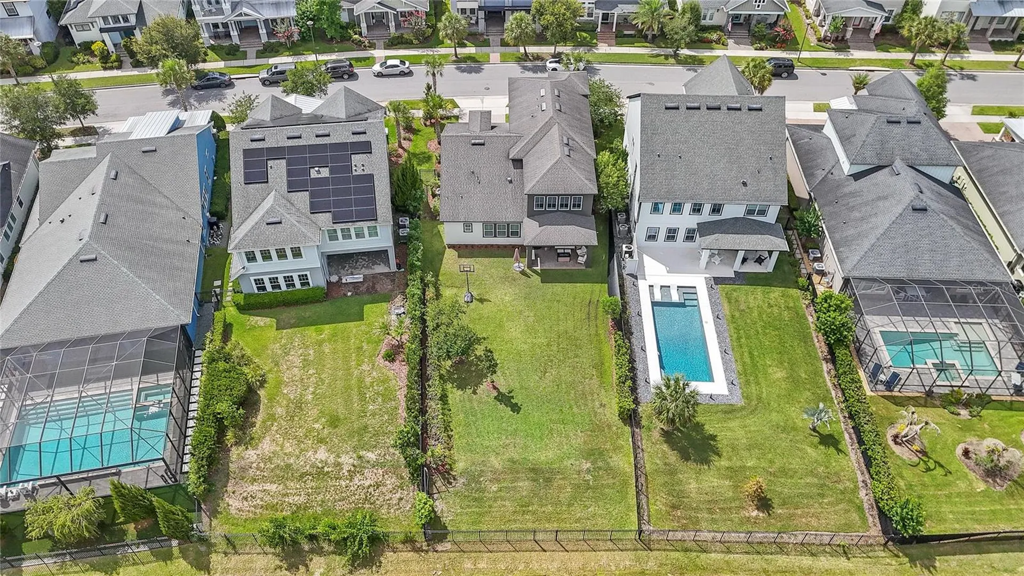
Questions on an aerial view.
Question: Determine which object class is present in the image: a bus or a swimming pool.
swimming pool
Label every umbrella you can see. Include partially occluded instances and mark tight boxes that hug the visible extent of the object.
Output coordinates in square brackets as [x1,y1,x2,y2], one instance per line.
[512,247,525,273]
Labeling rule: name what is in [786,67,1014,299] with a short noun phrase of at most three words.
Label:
house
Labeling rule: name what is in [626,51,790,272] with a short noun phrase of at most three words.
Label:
house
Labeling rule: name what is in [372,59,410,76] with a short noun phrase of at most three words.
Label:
car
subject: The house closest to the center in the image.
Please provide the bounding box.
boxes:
[437,70,599,268]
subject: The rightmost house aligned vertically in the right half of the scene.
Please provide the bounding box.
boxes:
[950,116,1024,294]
